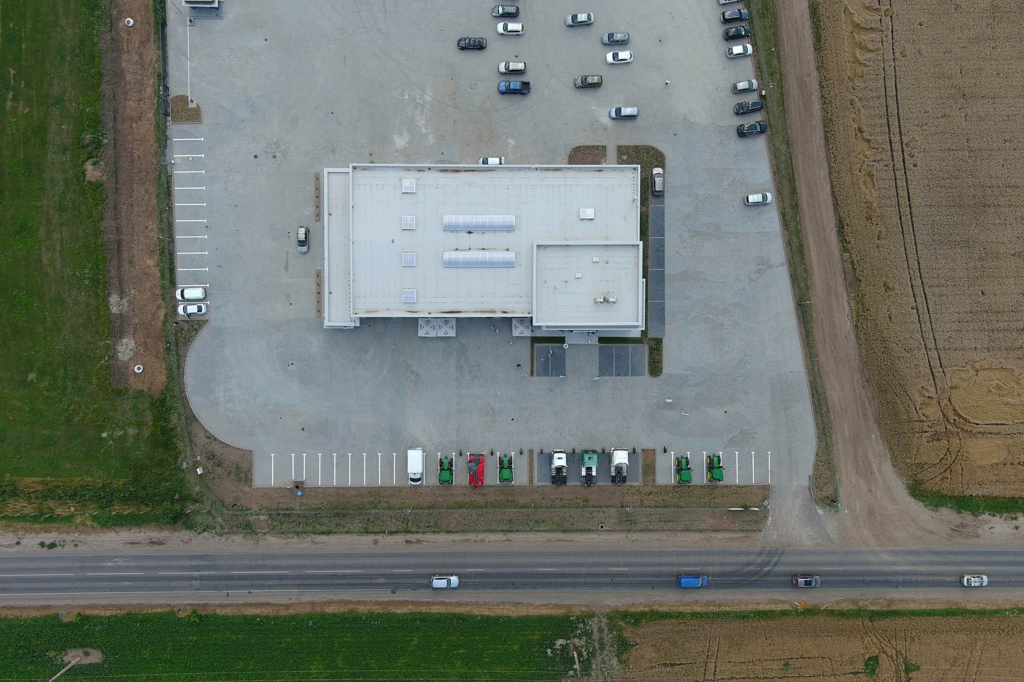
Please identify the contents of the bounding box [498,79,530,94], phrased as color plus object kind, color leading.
blue vehicle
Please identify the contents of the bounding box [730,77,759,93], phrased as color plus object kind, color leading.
gray car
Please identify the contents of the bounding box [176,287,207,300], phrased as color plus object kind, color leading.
white vehicle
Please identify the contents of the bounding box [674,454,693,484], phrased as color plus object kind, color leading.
green work vehicle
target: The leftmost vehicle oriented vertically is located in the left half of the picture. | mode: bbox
[295,225,309,254]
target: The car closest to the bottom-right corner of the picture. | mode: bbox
[960,574,988,588]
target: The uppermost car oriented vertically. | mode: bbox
[652,168,665,196]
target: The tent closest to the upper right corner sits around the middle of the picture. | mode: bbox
[512,318,530,336]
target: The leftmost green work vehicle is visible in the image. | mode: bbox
[438,454,454,484]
